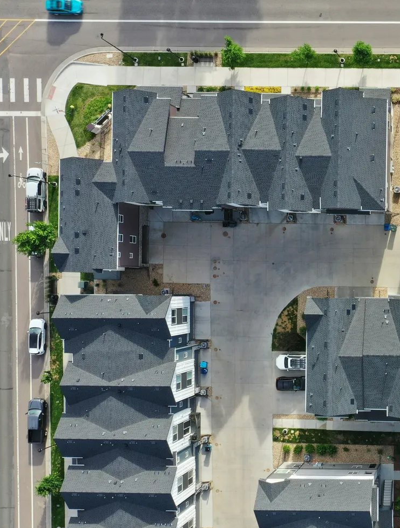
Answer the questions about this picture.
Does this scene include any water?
No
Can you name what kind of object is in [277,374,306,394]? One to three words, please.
vehicle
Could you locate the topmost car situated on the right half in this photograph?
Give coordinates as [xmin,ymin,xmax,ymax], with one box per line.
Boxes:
[276,353,306,372]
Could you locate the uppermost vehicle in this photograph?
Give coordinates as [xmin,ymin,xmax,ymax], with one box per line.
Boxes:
[42,0,80,16]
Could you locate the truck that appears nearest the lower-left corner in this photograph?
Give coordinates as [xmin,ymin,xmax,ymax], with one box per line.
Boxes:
[23,398,46,444]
